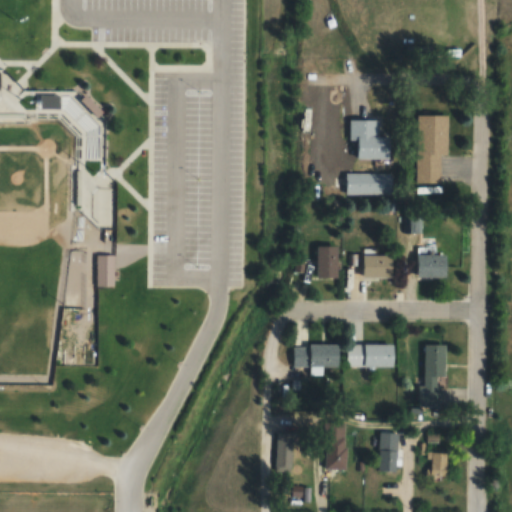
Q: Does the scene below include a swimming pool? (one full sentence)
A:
No, no swimming pool is visible in the scene.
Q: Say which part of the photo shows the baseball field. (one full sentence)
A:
The baseball field appears toward the left of the photo.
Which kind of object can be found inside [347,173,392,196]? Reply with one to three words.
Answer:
barn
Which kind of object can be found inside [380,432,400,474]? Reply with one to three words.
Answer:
house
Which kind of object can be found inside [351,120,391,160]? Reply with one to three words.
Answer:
building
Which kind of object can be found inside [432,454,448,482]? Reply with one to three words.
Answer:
house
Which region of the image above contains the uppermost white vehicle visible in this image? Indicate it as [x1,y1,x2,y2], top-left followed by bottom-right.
[326,14,338,31]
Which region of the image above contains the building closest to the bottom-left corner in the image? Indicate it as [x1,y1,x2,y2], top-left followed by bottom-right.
[98,255,116,288]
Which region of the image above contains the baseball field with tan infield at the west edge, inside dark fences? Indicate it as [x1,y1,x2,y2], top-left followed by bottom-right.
[0,122,72,384]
